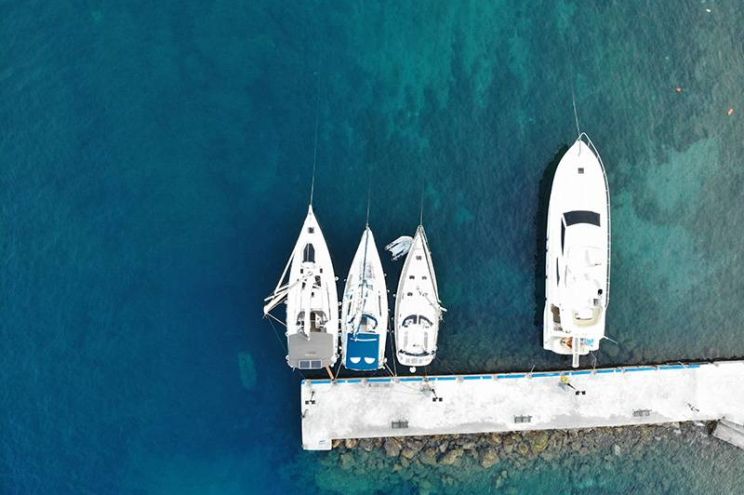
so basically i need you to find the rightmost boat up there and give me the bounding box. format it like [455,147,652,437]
[543,89,617,374]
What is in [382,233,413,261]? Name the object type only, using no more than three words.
boat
